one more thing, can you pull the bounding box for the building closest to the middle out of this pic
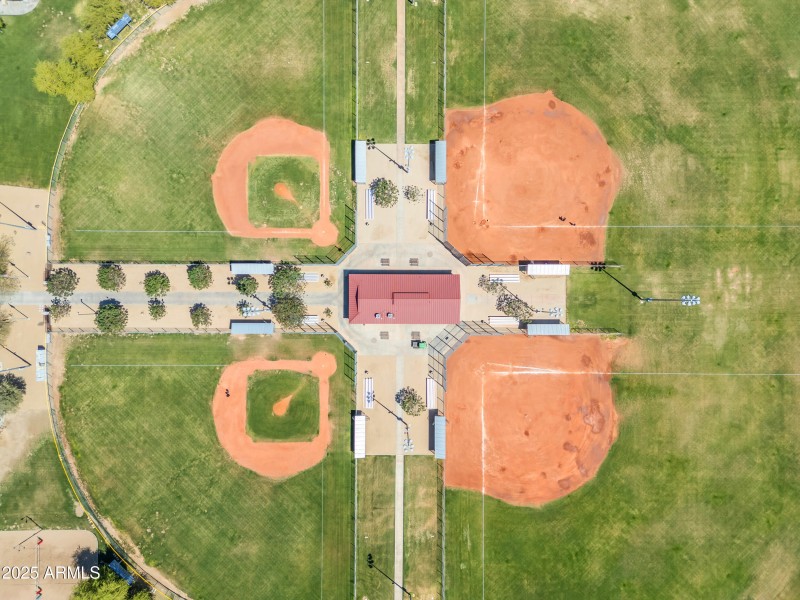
[348,273,461,324]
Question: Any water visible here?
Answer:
No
